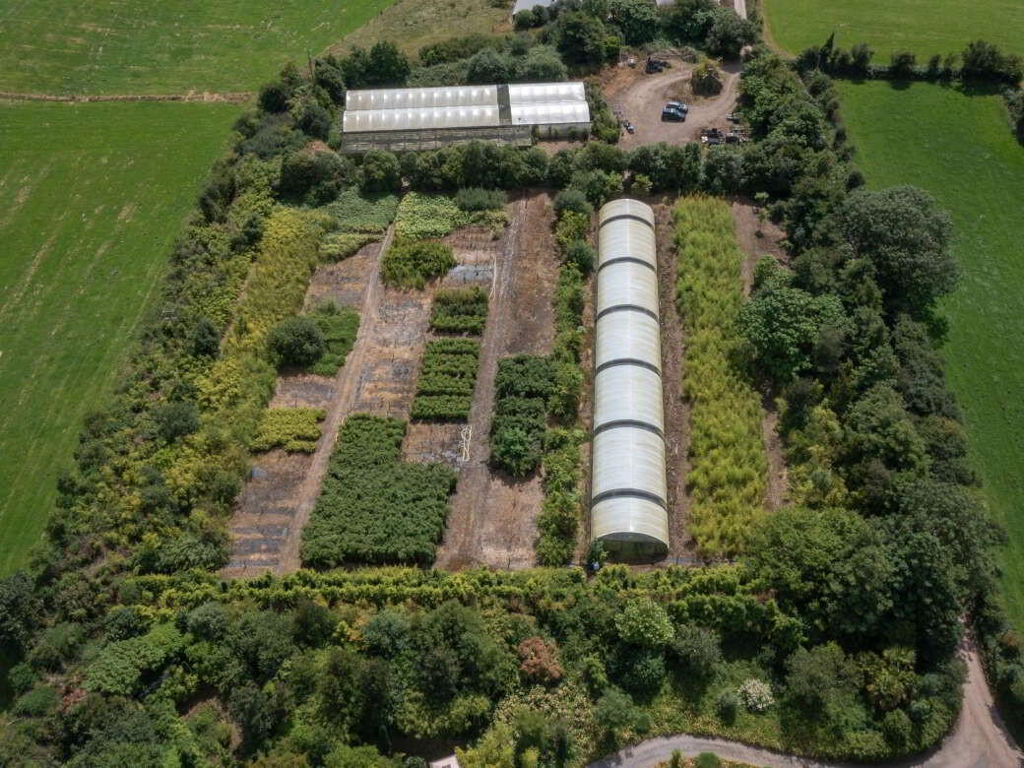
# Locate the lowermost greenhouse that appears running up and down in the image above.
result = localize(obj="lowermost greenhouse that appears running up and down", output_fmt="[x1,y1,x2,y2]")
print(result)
[591,199,672,551]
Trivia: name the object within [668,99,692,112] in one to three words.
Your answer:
vehicle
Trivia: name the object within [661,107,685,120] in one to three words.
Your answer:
vehicle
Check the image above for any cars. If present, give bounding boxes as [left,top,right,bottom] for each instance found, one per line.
[668,99,692,112]
[661,107,685,120]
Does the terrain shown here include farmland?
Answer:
Yes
